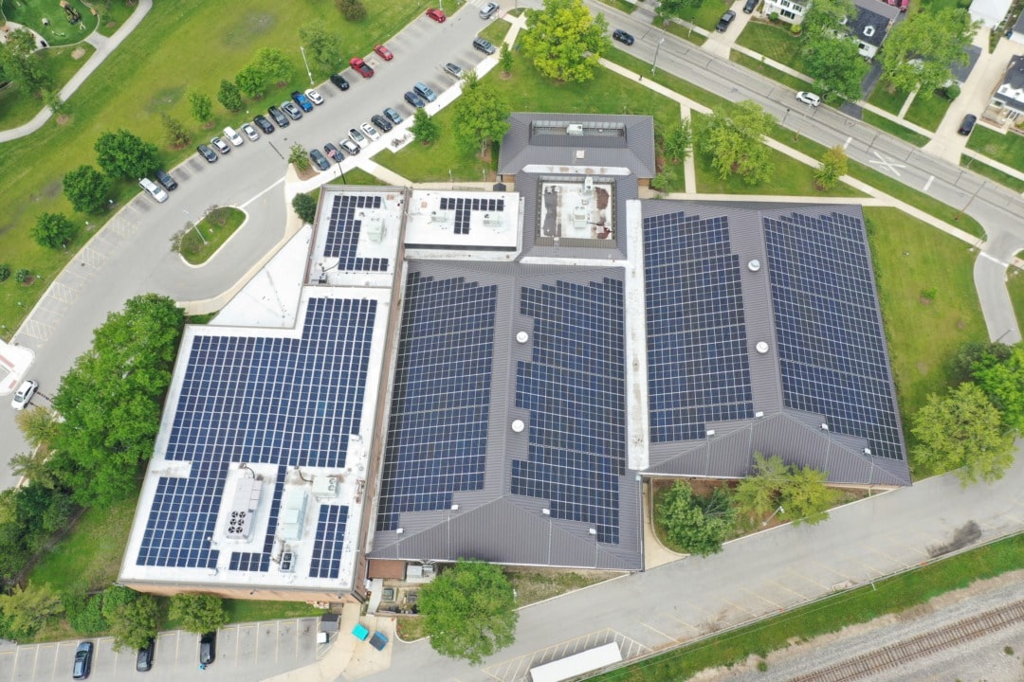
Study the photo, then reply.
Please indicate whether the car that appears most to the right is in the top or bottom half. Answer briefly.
top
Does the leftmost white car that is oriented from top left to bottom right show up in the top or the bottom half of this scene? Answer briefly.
top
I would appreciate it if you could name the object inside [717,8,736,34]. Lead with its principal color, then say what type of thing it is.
gray vehicle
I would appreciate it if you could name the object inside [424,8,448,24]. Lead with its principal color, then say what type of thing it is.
red car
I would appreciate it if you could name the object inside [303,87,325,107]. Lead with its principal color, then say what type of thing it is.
white car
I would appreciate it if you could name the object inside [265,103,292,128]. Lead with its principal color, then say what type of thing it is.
gray truck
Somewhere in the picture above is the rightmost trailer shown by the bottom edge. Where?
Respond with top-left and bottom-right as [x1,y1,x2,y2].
[530,643,622,682]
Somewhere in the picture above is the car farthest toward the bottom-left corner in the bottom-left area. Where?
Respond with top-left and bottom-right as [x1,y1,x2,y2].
[69,641,95,681]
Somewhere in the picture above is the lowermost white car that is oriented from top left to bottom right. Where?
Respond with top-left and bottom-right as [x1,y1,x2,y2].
[140,176,166,202]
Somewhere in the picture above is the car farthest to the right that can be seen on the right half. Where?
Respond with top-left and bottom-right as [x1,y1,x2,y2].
[957,113,977,137]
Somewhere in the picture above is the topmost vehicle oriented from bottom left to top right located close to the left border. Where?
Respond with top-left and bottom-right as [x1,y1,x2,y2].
[10,378,40,411]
